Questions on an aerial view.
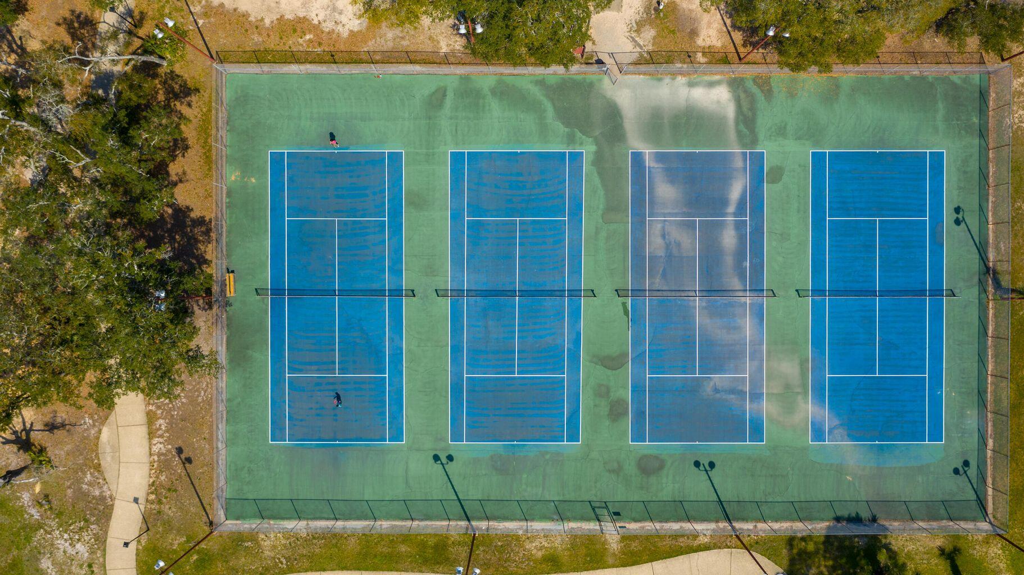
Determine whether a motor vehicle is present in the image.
No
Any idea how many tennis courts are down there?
four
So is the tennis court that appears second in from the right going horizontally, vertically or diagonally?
vertically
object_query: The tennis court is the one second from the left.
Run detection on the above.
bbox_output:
[449,150,585,444]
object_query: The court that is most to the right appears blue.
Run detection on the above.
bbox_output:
[810,150,946,443]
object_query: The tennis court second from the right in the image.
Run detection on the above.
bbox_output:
[630,150,766,444]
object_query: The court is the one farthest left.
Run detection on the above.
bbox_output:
[269,150,405,443]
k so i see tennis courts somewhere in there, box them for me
[269,150,405,443]
[630,150,766,444]
[449,150,585,444]
[810,150,946,443]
